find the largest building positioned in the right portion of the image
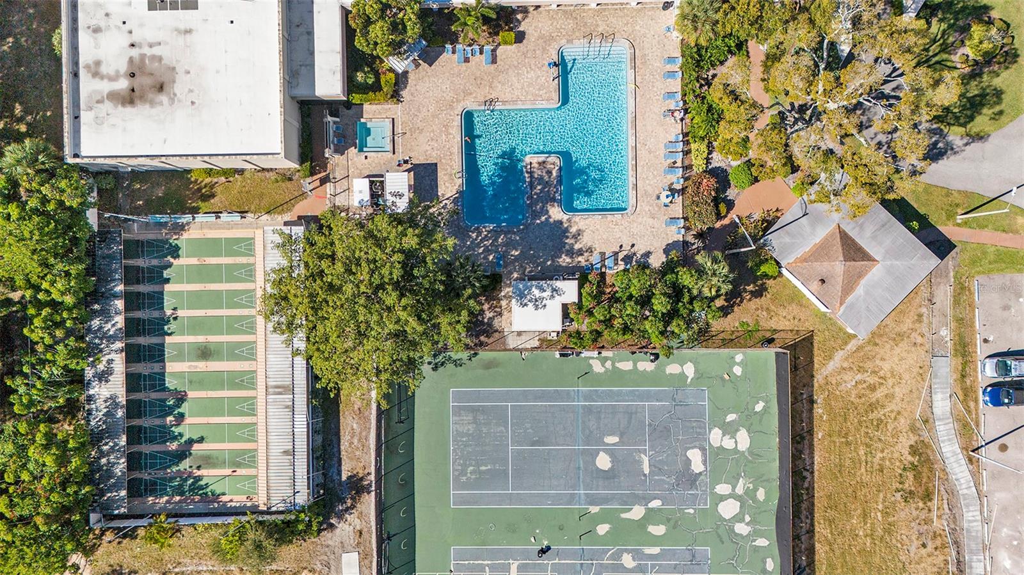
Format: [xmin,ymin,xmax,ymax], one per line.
[761,166,941,339]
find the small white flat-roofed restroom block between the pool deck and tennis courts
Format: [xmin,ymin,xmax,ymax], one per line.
[511,279,579,331]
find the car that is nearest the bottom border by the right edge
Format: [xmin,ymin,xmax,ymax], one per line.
[985,386,1024,410]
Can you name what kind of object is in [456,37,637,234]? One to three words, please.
swimming pool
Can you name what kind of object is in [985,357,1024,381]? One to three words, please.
car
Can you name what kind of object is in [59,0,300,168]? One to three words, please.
building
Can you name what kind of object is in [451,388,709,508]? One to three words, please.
tennis court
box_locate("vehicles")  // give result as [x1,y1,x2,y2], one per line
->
[985,357,1024,381]
[985,386,1024,410]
